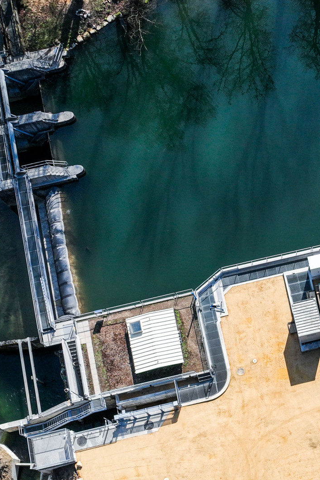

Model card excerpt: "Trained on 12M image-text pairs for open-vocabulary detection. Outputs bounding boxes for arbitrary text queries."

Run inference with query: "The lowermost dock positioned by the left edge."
[15,163,90,187]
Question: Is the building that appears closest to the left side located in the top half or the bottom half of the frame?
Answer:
bottom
